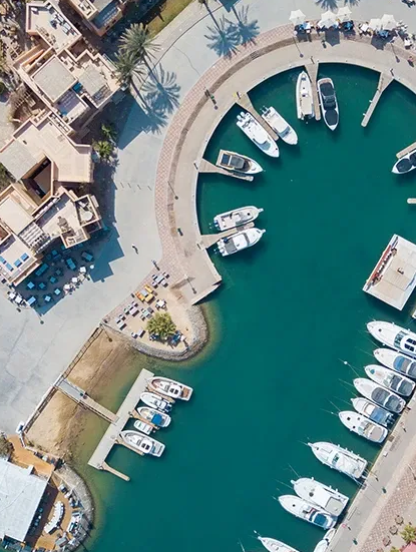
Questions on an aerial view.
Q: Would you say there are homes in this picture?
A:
Yes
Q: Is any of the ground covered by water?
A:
Yes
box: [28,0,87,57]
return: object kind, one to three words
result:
house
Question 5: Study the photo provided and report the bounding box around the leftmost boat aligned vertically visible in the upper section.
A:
[293,70,313,124]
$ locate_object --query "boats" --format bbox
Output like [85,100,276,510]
[312,394,396,447]
[261,108,297,145]
[146,377,194,403]
[236,117,279,158]
[218,151,262,175]
[261,481,344,537]
[134,421,159,436]
[316,78,338,131]
[215,230,265,255]
[253,528,306,552]
[293,70,313,124]
[323,526,335,539]
[275,468,355,519]
[354,338,416,381]
[138,406,173,428]
[390,145,416,174]
[340,368,413,416]
[121,432,168,457]
[212,206,263,229]
[341,394,404,428]
[141,394,176,413]
[293,433,379,488]
[351,360,415,402]
[356,316,416,356]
